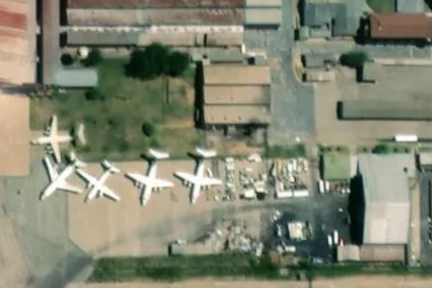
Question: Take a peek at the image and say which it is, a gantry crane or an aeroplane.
aeroplane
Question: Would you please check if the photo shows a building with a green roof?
Yes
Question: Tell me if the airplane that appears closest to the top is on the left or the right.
left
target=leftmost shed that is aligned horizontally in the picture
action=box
[54,69,97,88]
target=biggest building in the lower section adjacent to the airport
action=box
[357,153,416,249]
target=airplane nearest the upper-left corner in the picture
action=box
[30,115,85,162]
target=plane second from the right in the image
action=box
[127,149,175,205]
